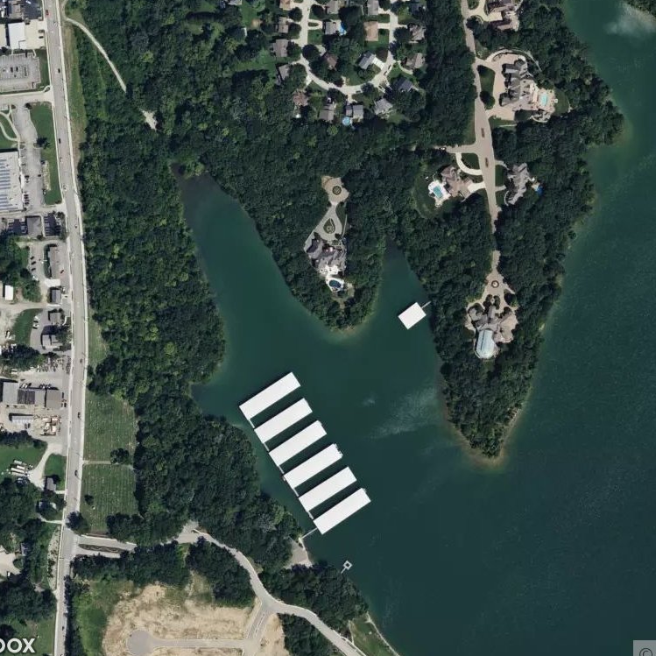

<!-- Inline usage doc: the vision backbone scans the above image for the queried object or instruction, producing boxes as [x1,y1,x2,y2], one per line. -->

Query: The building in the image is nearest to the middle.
[309,241,342,270]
